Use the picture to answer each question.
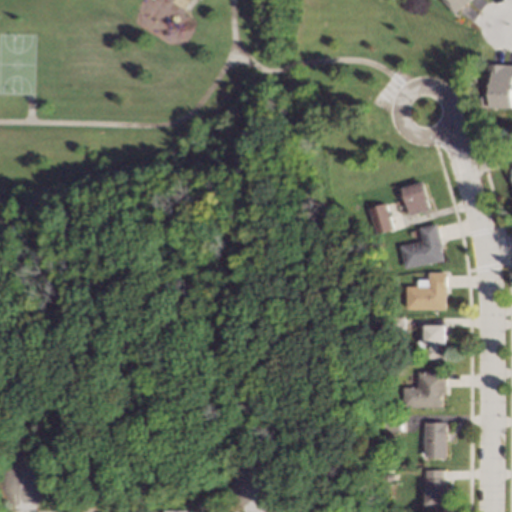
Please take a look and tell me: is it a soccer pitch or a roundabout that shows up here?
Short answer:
roundabout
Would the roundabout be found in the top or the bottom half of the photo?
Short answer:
top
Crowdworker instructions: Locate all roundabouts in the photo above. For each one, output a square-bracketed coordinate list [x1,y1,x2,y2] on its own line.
[390,77,458,146]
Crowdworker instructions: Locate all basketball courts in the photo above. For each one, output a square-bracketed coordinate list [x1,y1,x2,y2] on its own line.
[0,32,38,96]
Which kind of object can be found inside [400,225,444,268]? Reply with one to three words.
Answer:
house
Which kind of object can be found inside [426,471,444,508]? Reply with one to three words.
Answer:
house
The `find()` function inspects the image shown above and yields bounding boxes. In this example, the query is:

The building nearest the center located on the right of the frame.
[370,204,394,234]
